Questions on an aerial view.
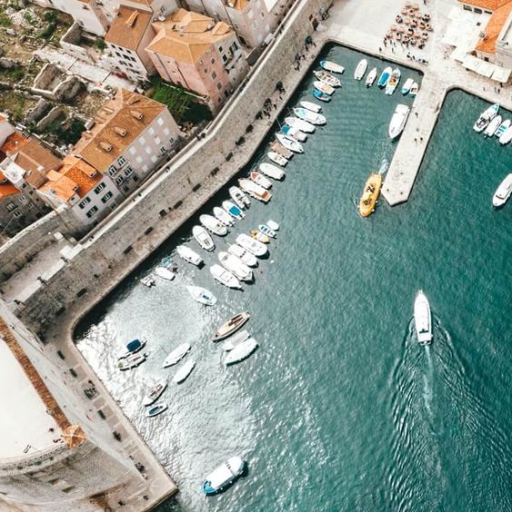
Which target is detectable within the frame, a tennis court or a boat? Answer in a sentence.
There is a boat in the scene.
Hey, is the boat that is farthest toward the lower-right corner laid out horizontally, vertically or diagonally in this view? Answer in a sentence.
In this picture, the boat that is farthest toward the lower-right corner is oriented vertically.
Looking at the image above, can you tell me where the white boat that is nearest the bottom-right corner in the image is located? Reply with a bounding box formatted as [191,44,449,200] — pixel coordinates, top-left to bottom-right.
[414,288,434,350]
